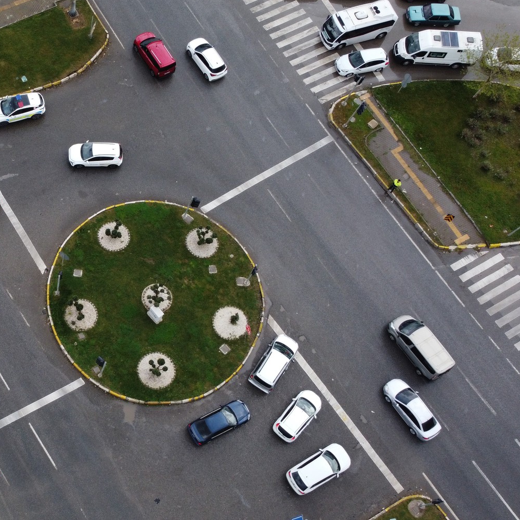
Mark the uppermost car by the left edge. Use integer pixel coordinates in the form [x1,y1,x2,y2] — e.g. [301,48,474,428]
[0,90,46,127]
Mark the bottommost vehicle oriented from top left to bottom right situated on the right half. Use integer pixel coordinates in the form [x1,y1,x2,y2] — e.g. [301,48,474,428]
[382,380,443,442]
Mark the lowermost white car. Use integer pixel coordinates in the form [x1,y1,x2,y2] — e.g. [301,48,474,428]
[285,445,353,495]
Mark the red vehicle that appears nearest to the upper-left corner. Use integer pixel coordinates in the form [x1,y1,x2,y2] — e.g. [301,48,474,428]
[135,32,176,79]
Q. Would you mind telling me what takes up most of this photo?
paved ground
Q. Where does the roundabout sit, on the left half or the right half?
left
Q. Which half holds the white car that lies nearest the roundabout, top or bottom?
bottom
